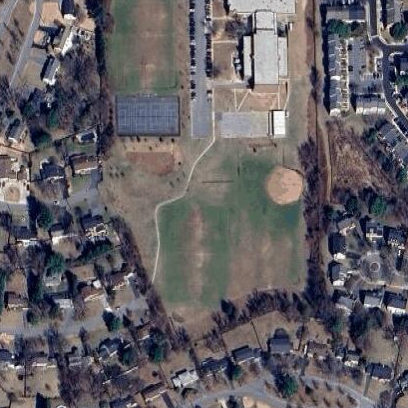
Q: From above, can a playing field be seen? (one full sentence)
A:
Yes, there is a playing field in the image.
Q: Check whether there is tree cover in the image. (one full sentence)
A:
Yes, tree cover shows up in the scene.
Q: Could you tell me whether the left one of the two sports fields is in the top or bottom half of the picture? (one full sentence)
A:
The left one of the two sports fields is in the top half of the image.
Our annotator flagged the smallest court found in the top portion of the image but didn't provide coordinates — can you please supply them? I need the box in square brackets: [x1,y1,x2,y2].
[221,111,269,139]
